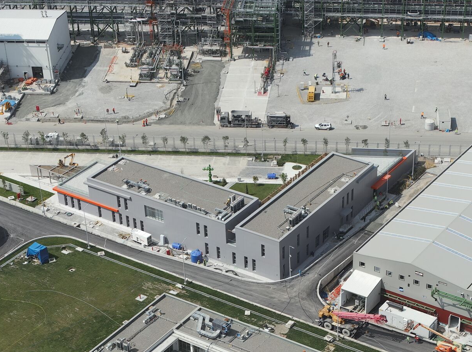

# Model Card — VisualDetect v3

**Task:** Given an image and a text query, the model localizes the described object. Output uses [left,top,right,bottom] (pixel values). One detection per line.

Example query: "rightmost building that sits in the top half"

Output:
[437,105,452,130]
